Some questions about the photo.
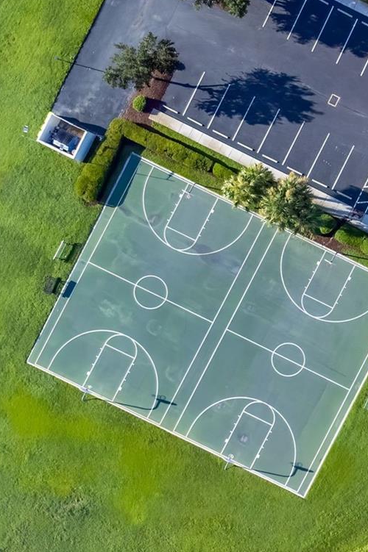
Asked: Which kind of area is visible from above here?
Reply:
sports ground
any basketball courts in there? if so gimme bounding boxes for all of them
[164,222,368,499]
[26,151,271,431]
